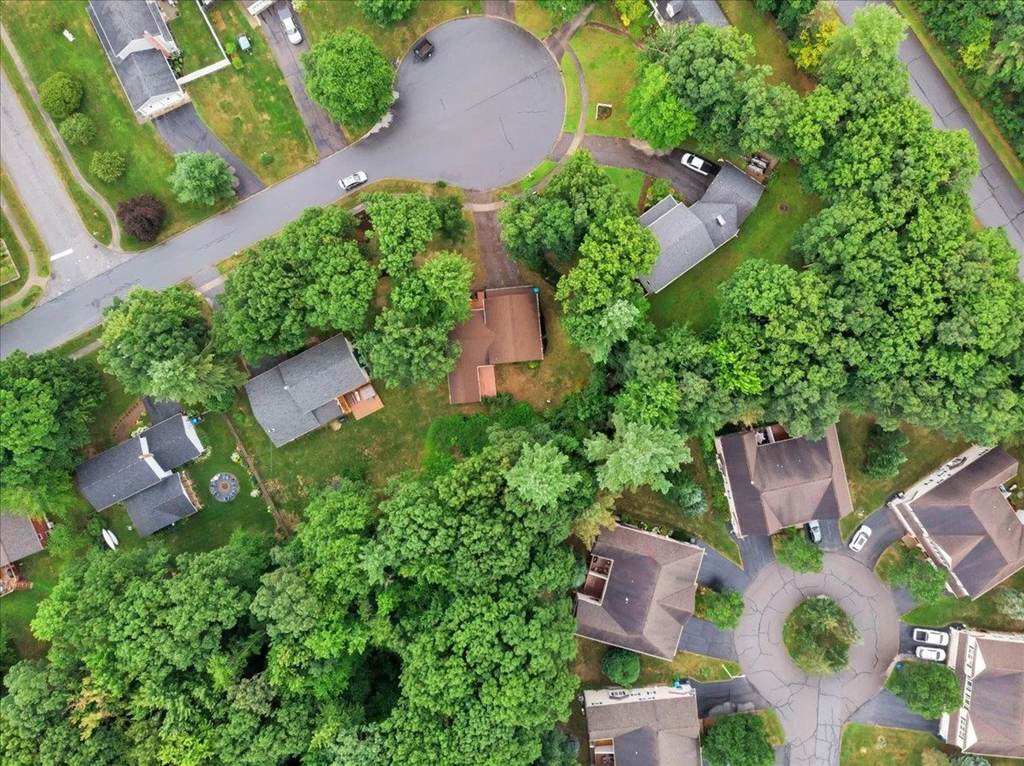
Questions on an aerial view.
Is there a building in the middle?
Yes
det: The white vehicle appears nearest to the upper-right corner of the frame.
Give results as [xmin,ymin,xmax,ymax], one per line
[680,152,718,177]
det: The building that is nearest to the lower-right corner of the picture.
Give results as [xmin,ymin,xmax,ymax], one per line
[938,627,1024,761]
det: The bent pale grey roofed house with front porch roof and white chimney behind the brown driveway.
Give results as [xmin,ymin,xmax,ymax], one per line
[625,152,765,290]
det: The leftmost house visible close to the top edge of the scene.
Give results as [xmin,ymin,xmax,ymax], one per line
[81,0,188,116]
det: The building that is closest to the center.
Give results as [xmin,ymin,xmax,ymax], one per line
[445,284,544,405]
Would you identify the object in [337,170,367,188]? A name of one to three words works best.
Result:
car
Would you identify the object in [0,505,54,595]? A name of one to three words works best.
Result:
house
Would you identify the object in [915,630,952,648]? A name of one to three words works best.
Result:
vehicle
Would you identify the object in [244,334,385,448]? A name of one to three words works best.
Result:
house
